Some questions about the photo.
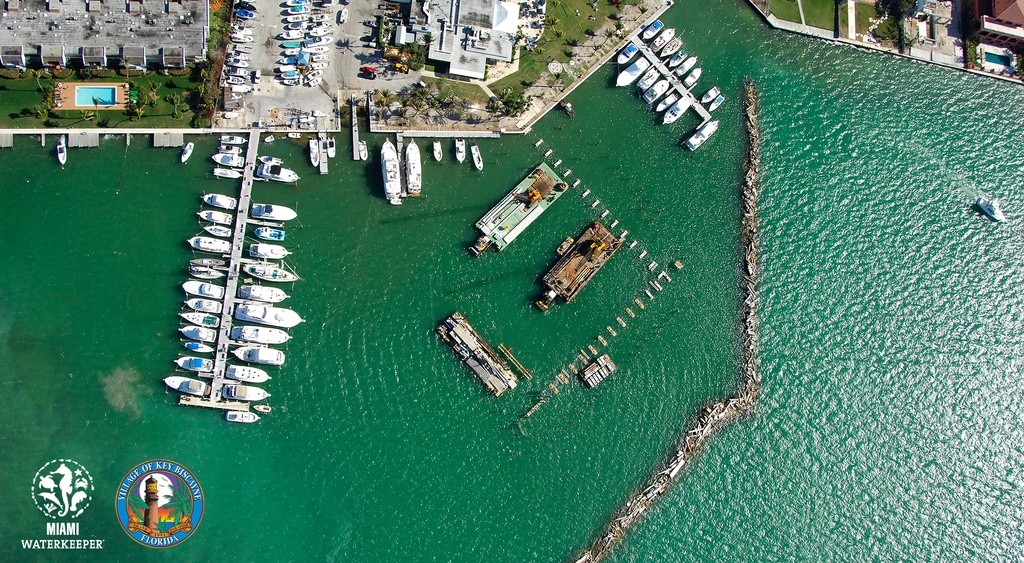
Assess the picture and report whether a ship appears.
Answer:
Yes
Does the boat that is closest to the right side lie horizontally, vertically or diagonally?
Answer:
diagonally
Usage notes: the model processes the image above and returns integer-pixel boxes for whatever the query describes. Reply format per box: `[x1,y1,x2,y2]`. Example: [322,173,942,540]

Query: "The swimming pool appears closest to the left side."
[55,83,129,110]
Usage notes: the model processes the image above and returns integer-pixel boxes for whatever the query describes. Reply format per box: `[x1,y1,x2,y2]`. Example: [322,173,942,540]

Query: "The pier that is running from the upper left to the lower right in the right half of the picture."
[630,32,712,130]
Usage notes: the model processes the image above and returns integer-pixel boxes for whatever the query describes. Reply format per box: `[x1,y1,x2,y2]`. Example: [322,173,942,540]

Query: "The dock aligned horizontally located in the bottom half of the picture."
[178,397,250,411]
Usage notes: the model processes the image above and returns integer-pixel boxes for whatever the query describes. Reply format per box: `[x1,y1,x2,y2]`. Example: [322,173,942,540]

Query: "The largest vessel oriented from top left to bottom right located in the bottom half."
[436,312,518,398]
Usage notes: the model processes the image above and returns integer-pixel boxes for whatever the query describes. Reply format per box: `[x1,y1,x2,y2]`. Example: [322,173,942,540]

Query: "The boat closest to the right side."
[973,196,1005,221]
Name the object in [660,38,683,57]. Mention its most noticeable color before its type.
white boat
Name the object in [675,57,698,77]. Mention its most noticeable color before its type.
white boat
